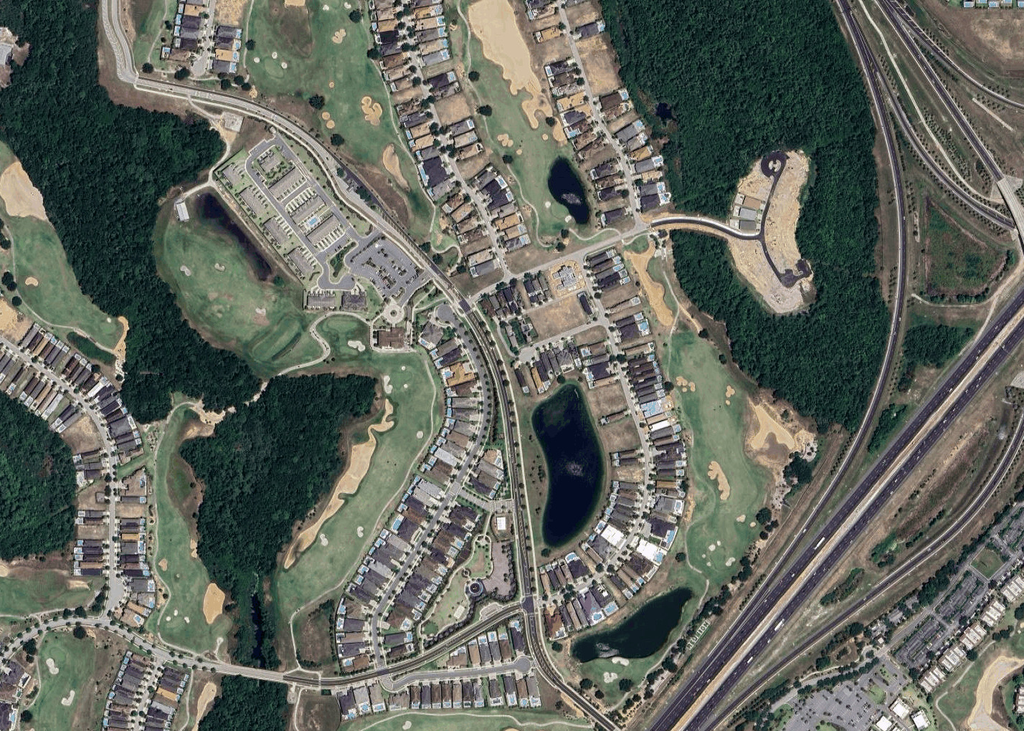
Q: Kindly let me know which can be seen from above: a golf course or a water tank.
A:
golf course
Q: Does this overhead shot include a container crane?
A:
No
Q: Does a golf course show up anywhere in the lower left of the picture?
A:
Yes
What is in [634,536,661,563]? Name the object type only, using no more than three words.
house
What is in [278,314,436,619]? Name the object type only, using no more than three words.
golf course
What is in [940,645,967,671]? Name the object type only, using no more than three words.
building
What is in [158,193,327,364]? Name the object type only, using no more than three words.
golf course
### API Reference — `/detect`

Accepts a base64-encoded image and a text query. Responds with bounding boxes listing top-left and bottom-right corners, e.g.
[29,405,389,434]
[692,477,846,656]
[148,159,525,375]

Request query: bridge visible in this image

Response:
[997,175,1024,256]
